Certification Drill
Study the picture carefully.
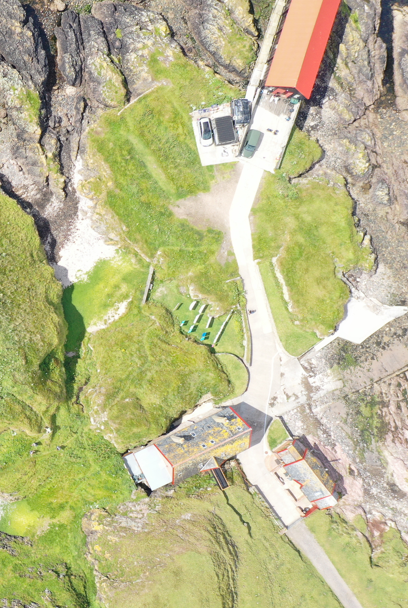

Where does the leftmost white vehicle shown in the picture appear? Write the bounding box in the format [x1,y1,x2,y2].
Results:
[195,116,211,147]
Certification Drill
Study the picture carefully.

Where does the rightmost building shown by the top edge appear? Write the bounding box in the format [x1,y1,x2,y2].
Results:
[250,0,341,102]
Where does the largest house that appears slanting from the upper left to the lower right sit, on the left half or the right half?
right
